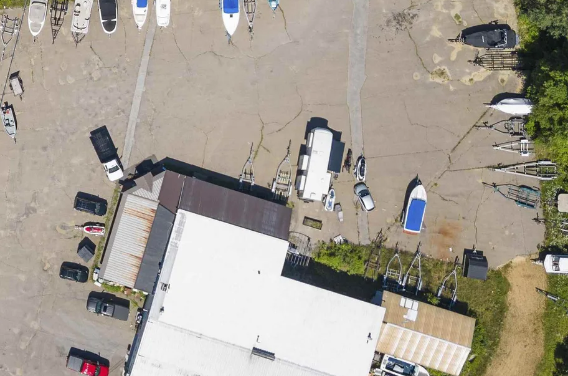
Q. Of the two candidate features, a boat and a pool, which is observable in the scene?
boat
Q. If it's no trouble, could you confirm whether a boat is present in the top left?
Yes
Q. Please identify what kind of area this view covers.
parking lot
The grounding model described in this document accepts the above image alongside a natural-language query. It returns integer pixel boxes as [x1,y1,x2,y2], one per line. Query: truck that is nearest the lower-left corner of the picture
[65,355,110,376]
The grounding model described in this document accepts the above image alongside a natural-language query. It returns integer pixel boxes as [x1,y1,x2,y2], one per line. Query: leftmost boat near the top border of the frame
[28,0,48,35]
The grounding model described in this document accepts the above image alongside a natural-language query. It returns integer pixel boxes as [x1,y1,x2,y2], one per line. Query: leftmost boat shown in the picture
[0,106,14,139]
